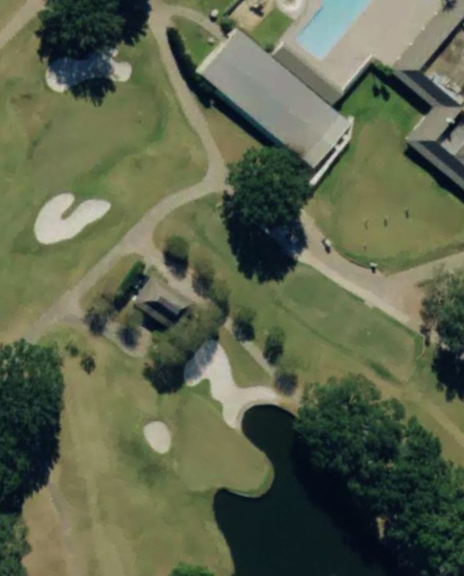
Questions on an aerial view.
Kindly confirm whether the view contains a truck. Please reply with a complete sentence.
No, no truck is visible in the scene.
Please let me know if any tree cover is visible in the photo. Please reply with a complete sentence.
Yes, there is tree cover in the image.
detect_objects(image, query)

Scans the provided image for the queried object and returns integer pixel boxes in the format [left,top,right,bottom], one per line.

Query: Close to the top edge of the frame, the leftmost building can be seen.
[195,28,357,190]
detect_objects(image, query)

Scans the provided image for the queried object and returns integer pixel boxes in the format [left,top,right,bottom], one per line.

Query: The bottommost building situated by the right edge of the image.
[405,105,464,192]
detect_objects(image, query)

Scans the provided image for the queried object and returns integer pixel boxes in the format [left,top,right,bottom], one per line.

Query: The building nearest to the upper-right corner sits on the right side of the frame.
[394,69,464,110]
